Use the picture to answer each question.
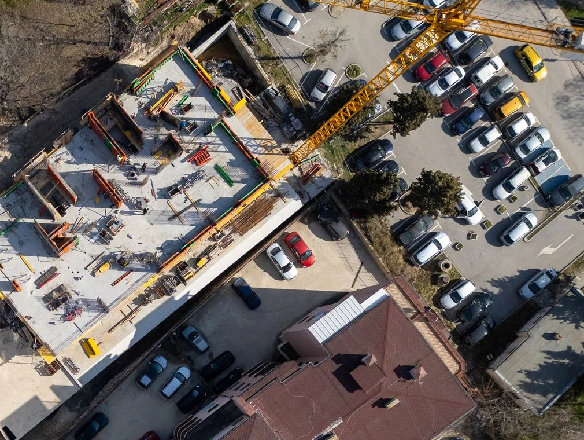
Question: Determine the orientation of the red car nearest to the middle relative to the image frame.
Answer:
at an angle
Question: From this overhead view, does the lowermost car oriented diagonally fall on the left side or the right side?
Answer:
left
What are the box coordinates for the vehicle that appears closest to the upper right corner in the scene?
[514,42,550,83]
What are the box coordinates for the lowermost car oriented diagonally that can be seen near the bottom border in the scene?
[73,409,111,440]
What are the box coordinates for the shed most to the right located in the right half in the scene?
[481,286,584,414]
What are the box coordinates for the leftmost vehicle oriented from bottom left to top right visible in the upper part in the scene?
[308,67,339,104]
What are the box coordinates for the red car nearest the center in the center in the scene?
[282,230,315,269]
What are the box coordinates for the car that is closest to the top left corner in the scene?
[259,3,300,36]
